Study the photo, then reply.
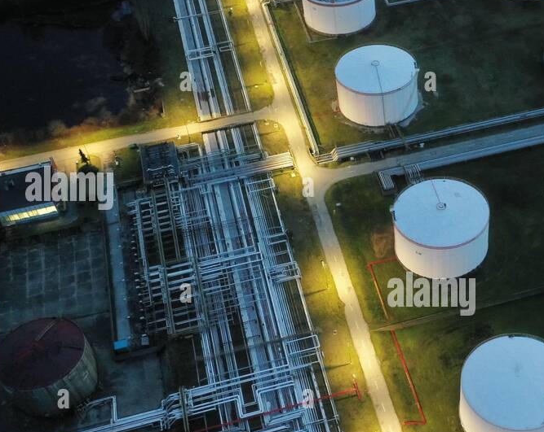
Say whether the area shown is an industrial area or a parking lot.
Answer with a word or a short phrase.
industrial area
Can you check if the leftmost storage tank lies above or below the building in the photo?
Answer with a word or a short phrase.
below it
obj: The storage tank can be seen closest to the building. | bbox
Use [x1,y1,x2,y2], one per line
[0,318,101,420]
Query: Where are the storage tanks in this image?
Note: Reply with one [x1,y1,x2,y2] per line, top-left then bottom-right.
[0,318,101,420]
[456,331,544,432]
[386,176,491,281]
[300,0,379,35]
[334,41,423,129]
